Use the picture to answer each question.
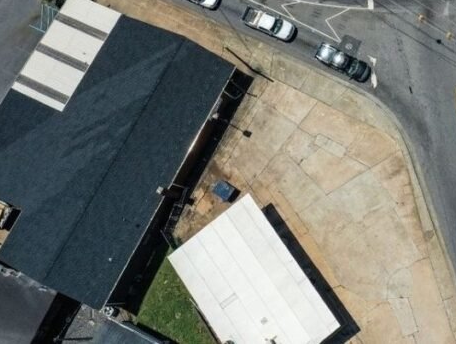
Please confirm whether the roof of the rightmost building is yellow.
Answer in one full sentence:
No, from above the roof of the rightmost building looks white.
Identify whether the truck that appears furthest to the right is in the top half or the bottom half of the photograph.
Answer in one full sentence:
Seen from above, the truck that appears furthest to the right lies in the top half of the view.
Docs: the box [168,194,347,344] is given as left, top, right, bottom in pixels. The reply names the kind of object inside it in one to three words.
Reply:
building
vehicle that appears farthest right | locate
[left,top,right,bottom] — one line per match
[314,42,372,80]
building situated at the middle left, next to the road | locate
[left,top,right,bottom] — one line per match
[0,0,240,311]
